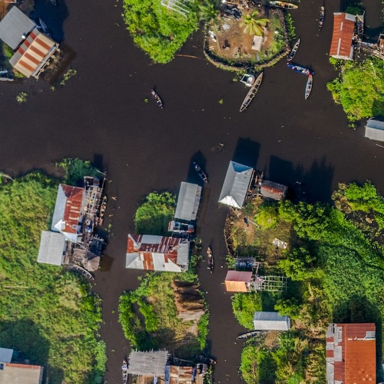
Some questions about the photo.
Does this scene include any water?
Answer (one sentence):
Yes, water shows up in the scene.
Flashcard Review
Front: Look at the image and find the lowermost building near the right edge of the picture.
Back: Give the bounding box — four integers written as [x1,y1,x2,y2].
[327,323,380,384]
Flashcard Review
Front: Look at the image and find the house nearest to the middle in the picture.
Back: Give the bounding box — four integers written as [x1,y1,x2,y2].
[174,181,202,221]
